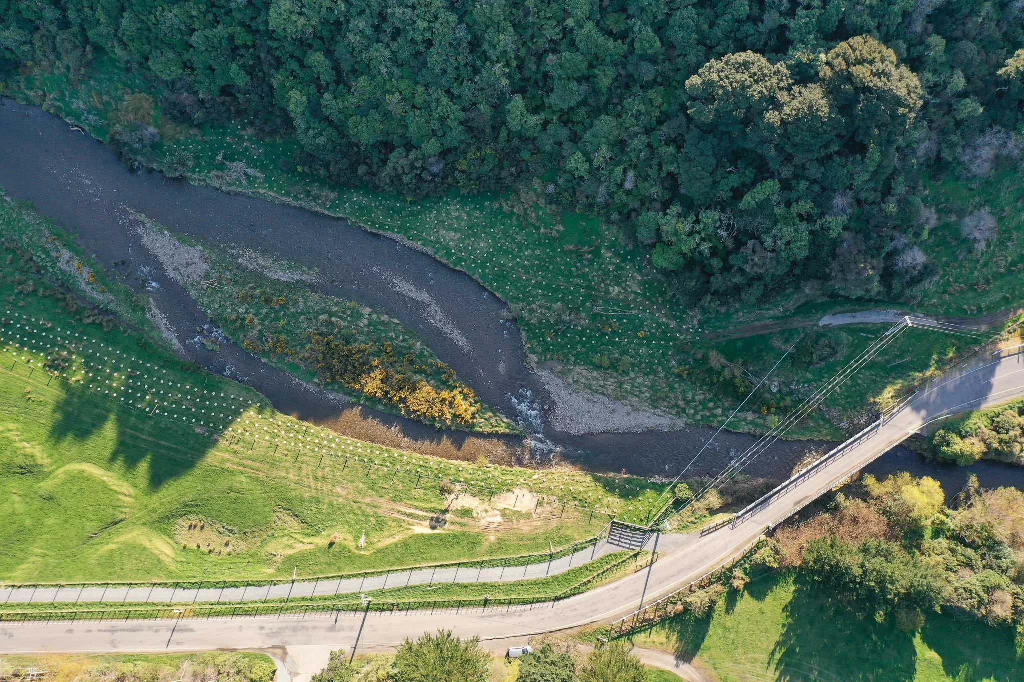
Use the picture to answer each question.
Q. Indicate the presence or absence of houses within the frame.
No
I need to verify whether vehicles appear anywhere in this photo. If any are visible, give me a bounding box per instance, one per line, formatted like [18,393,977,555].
[509,645,531,658]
